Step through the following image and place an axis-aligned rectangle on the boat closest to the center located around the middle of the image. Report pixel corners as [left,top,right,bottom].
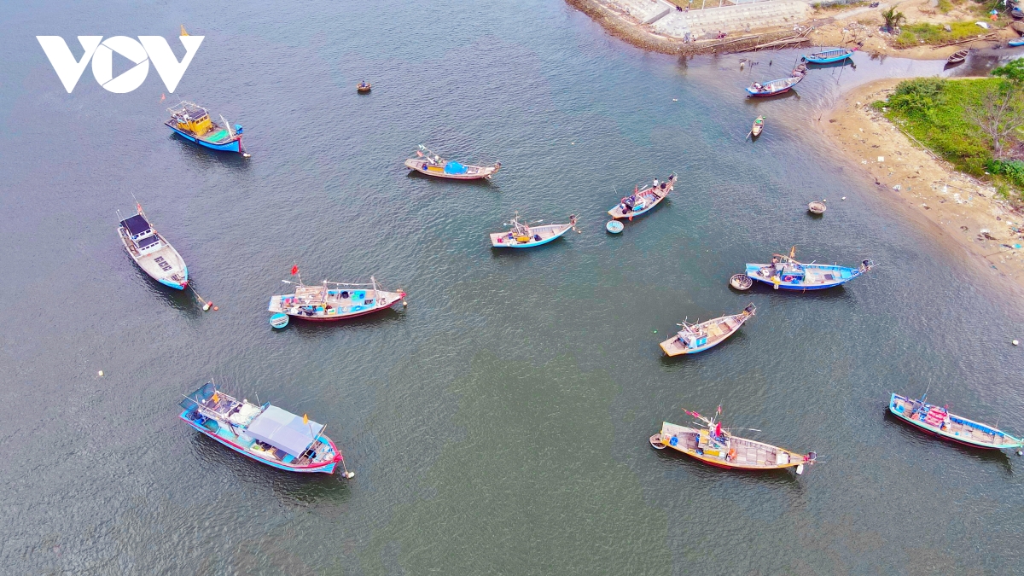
[490,209,584,252]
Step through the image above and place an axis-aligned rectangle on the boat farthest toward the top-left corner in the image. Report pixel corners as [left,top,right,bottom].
[160,95,247,153]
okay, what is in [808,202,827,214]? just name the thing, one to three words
boat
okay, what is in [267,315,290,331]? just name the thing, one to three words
boat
